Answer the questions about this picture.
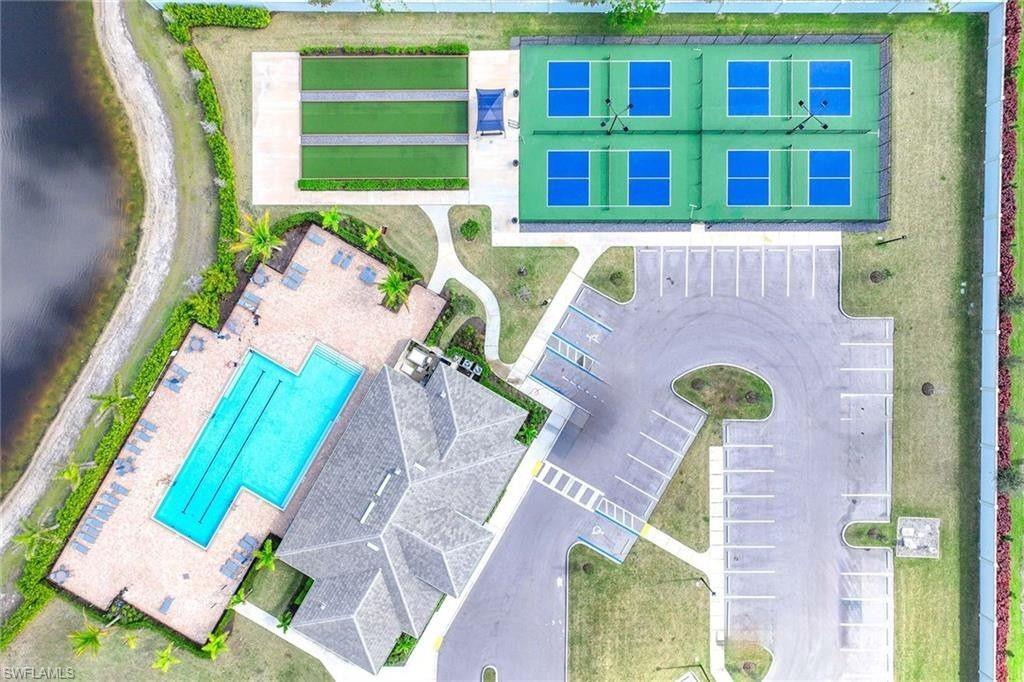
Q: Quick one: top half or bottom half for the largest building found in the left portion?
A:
bottom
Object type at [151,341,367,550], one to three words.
swimming pool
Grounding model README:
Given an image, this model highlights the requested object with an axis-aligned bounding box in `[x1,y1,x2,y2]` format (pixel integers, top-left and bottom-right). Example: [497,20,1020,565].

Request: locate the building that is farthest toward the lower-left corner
[276,362,529,675]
